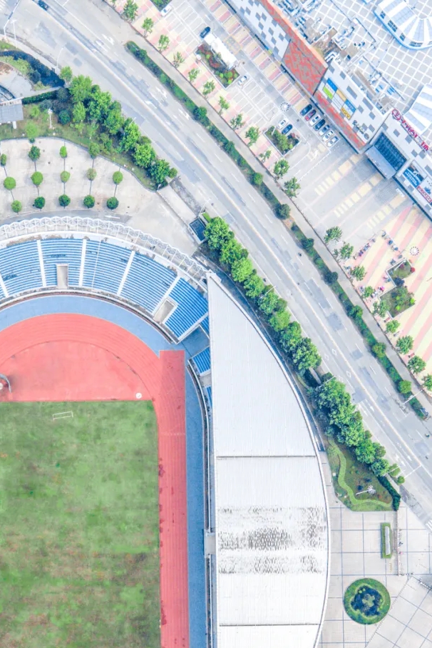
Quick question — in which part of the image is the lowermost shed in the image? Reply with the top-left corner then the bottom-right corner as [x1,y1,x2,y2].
[188,216,208,244]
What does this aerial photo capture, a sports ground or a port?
sports ground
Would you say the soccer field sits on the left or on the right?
left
